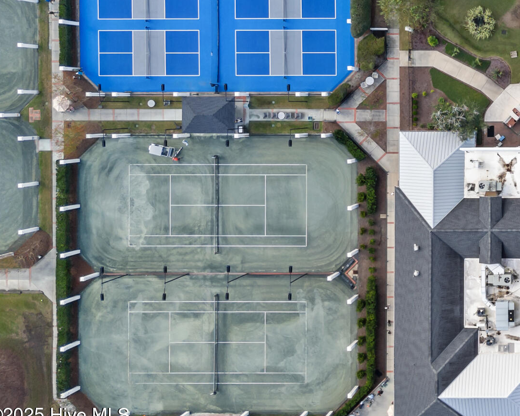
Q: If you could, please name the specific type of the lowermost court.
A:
tennis court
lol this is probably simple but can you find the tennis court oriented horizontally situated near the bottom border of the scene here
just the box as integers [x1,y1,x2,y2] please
[76,275,358,412]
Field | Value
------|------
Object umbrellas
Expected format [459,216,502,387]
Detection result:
[54,93,76,114]
[386,402,395,416]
